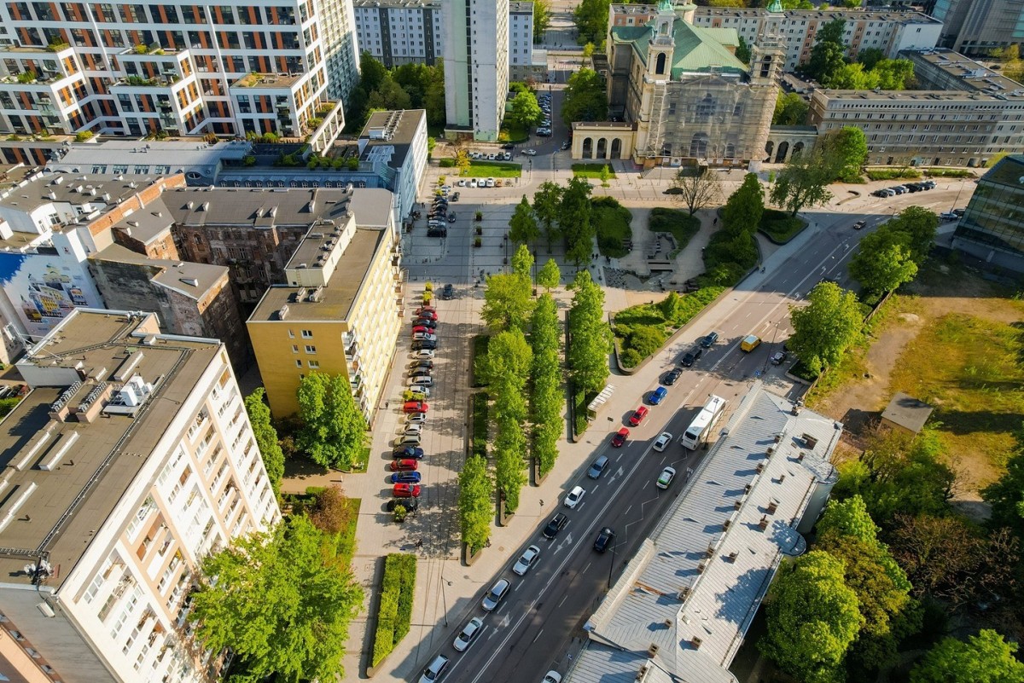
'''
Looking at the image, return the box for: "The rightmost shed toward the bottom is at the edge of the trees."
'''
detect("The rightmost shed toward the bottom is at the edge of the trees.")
[876,392,933,443]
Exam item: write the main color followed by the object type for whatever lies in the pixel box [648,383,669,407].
blue car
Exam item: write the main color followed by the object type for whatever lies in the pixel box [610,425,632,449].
red car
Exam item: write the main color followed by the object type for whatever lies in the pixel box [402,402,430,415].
red vehicle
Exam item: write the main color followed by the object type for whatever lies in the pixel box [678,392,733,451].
white bus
